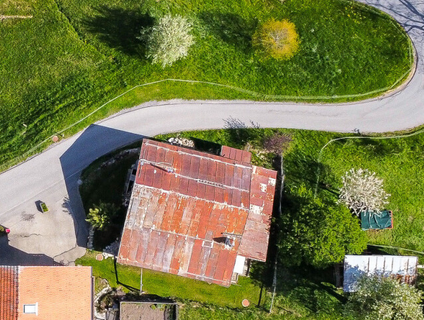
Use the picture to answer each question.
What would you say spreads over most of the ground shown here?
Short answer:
grass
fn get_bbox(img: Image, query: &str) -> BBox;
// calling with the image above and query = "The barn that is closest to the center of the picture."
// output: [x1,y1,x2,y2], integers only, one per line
[117,139,276,288]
